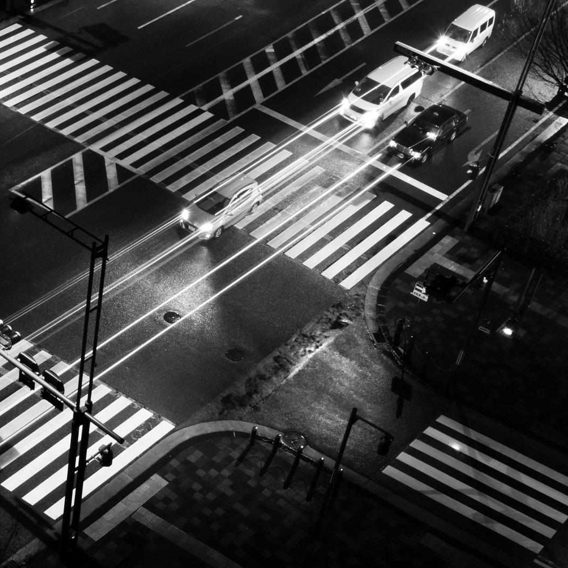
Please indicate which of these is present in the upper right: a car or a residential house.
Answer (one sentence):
You can see a car in the upper right.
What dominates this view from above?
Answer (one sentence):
For the most part, this view shows paved ground.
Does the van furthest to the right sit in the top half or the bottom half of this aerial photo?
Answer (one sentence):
It is in the top half that the van furthest to the right appears.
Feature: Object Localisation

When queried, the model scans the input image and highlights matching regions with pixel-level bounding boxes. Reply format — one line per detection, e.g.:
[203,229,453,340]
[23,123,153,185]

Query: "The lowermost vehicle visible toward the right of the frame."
[383,95,469,161]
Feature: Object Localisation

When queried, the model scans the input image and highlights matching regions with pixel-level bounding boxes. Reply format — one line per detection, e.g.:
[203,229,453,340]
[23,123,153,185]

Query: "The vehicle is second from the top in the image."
[332,53,420,126]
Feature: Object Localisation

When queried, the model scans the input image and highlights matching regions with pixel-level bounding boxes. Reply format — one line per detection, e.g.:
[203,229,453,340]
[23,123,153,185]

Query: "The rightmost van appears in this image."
[430,0,505,58]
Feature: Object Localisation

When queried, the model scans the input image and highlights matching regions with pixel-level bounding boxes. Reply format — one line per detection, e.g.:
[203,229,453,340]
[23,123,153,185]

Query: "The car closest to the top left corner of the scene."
[177,165,266,239]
